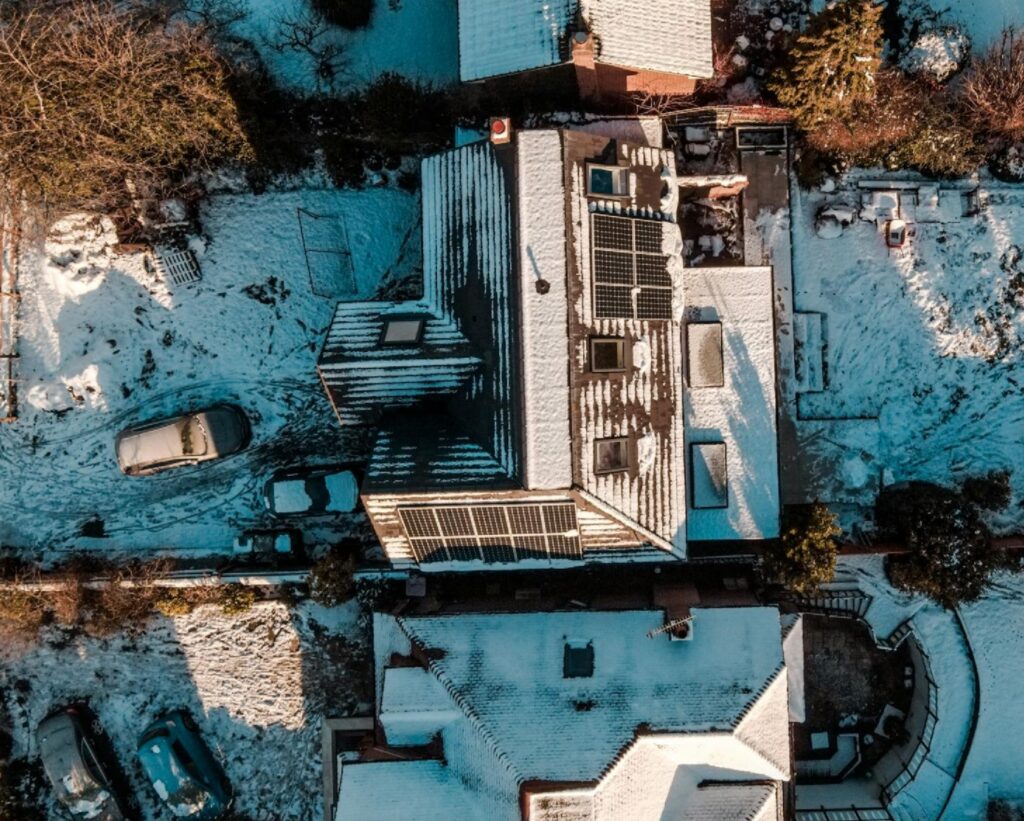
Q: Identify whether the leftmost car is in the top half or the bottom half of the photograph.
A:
bottom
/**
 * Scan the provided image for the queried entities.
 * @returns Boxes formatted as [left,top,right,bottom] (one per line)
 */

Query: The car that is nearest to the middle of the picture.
[267,463,366,522]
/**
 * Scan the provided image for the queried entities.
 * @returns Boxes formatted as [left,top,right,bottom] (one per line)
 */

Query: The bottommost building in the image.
[333,546,804,821]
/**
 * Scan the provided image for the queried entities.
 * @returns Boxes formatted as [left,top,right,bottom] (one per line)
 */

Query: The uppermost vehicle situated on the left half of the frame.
[116,402,261,478]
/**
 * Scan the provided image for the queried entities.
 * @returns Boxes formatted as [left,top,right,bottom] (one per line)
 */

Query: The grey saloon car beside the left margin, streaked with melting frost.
[37,700,137,821]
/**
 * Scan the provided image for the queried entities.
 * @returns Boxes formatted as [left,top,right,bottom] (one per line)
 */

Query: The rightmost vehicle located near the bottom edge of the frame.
[141,708,238,821]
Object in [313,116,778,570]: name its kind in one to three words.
house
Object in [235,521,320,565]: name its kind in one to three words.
trailer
